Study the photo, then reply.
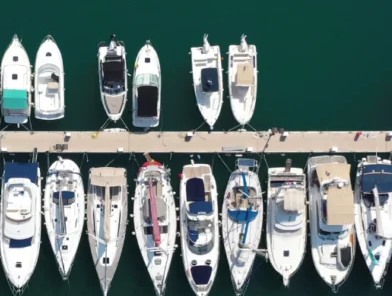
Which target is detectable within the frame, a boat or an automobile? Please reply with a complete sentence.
The one in the frame is a boat.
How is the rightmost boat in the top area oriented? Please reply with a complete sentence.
The rightmost boat in the top area is laid out up and down.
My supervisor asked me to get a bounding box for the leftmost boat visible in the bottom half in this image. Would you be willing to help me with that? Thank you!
[0,148,45,294]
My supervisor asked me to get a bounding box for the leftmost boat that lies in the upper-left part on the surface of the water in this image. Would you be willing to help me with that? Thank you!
[0,33,34,127]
